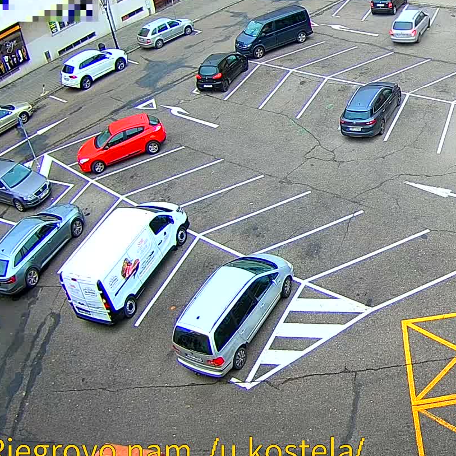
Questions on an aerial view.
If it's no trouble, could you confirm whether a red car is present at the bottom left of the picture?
No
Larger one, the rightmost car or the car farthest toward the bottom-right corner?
the car farthest toward the bottom-right corner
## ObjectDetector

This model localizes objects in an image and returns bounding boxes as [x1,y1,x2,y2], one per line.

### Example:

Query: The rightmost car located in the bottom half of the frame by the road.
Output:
[167,255,291,381]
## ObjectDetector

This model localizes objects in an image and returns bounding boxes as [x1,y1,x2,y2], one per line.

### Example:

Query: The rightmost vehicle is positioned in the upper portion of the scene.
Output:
[389,11,430,42]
